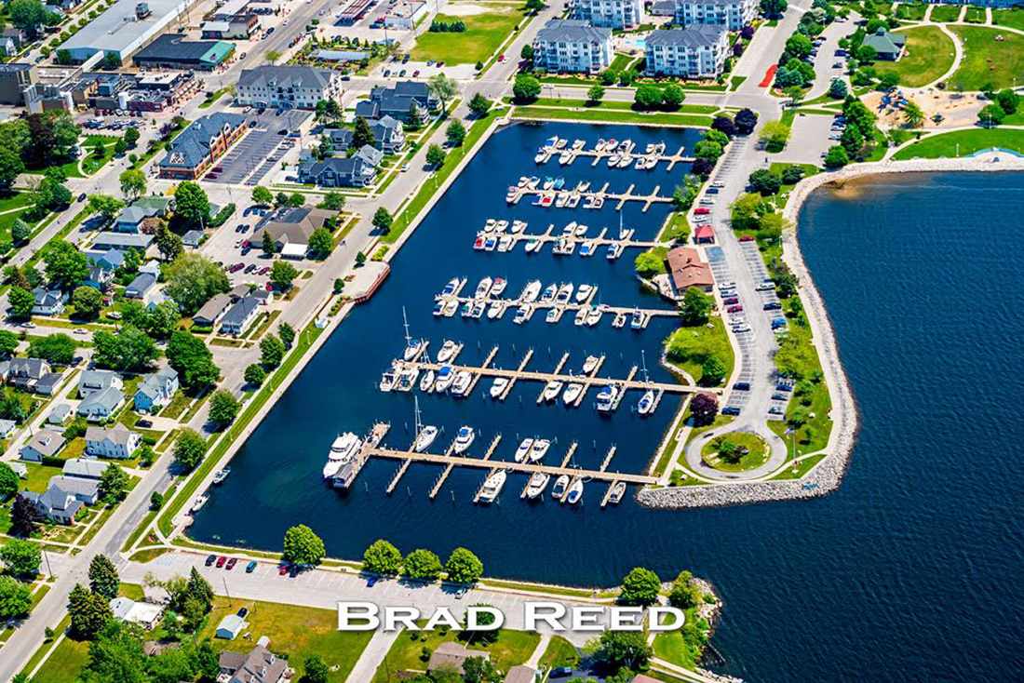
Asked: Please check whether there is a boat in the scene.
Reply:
Yes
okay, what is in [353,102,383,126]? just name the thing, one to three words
house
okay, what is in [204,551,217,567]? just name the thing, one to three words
vehicle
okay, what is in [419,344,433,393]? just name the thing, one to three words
boat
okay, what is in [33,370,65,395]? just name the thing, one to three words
building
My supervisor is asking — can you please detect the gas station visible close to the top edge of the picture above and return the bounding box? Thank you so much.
[336,0,379,29]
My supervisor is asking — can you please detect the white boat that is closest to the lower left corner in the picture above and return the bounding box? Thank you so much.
[192,490,212,513]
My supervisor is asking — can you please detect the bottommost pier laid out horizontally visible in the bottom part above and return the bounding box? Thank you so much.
[367,430,659,509]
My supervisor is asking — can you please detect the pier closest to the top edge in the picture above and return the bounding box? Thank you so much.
[542,138,695,172]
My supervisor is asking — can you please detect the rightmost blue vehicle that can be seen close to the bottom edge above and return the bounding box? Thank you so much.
[551,663,569,682]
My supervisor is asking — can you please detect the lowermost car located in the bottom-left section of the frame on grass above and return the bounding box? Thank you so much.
[235,605,250,619]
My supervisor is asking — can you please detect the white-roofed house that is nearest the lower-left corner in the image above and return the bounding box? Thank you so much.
[110,598,166,633]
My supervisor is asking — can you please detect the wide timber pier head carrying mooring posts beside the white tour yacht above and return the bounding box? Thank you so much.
[336,422,394,491]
